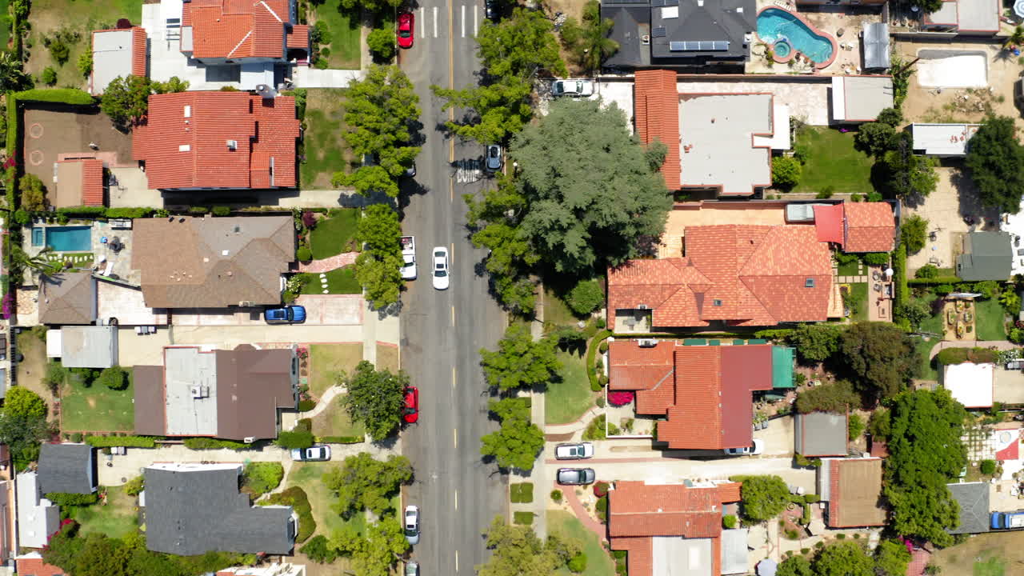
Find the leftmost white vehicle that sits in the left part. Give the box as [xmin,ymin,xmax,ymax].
[291,444,332,463]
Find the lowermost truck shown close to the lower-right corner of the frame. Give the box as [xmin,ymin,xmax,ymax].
[990,510,1024,531]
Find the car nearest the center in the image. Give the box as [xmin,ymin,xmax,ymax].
[430,247,451,290]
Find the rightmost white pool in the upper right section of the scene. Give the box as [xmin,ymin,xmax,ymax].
[916,49,989,89]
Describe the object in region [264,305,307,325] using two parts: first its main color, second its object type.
blue car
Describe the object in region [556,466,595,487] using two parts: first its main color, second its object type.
gray car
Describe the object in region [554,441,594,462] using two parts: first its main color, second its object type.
white car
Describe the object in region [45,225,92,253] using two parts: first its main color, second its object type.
blue swimming pool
